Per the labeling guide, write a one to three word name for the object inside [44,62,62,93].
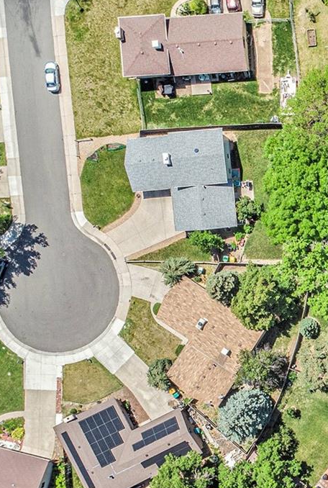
car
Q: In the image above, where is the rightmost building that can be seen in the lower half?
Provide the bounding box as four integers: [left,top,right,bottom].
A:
[156,275,265,407]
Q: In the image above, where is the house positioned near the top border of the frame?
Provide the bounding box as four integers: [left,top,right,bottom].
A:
[115,12,249,80]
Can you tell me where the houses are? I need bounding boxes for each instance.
[115,12,249,80]
[156,275,265,407]
[53,398,204,488]
[126,127,238,232]
[0,445,56,488]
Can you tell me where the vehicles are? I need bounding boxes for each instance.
[249,0,265,19]
[209,0,224,13]
[0,256,9,283]
[44,62,62,93]
[227,0,242,12]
